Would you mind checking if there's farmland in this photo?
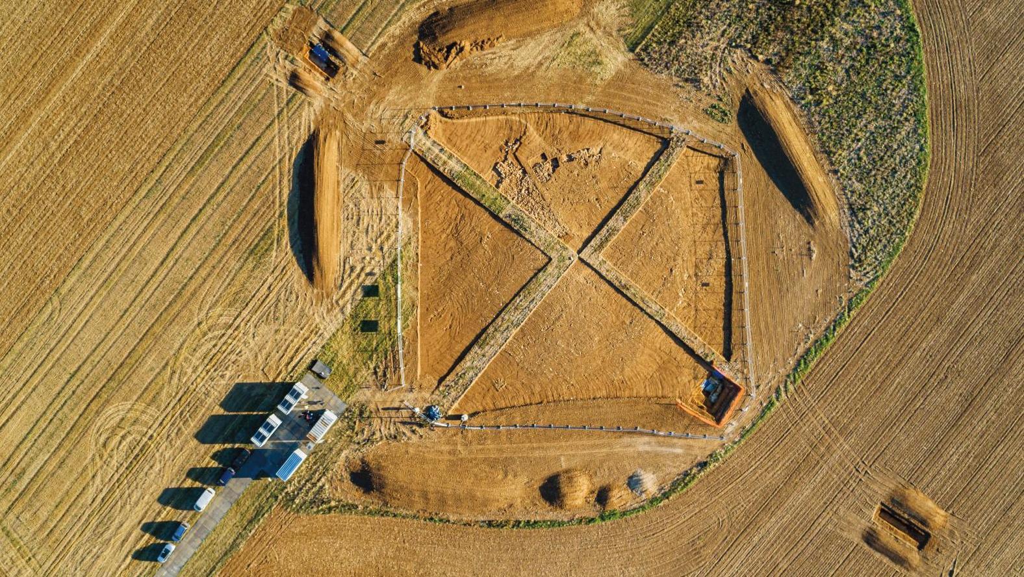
Yes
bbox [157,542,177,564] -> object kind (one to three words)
car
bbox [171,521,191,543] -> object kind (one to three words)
car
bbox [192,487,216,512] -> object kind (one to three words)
vehicle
